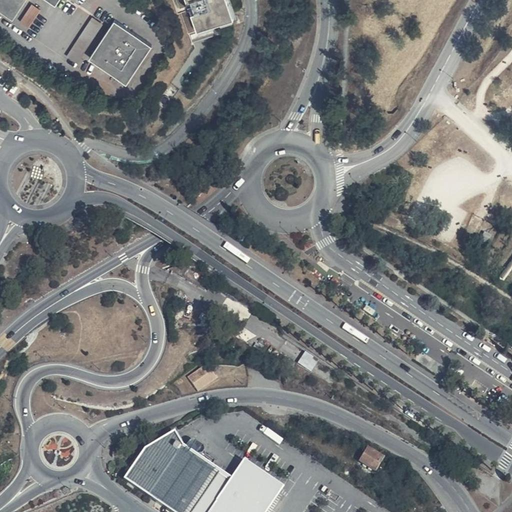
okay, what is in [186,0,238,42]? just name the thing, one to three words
building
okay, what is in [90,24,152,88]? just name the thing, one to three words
building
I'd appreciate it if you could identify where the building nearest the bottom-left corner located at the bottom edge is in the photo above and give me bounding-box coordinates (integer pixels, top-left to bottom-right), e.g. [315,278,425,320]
[125,429,232,512]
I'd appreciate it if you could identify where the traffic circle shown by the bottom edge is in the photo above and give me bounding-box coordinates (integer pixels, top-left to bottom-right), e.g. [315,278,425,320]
[20,414,96,490]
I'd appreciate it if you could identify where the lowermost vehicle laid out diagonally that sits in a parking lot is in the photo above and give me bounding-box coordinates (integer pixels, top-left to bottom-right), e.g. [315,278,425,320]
[320,486,339,501]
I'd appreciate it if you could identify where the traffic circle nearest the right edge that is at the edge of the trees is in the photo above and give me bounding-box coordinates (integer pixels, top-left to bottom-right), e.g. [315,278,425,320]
[242,136,334,228]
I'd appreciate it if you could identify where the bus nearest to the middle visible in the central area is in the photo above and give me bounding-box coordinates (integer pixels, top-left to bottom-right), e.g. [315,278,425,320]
[221,240,252,264]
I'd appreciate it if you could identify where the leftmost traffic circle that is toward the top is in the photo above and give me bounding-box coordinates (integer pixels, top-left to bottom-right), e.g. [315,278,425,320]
[0,134,84,226]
